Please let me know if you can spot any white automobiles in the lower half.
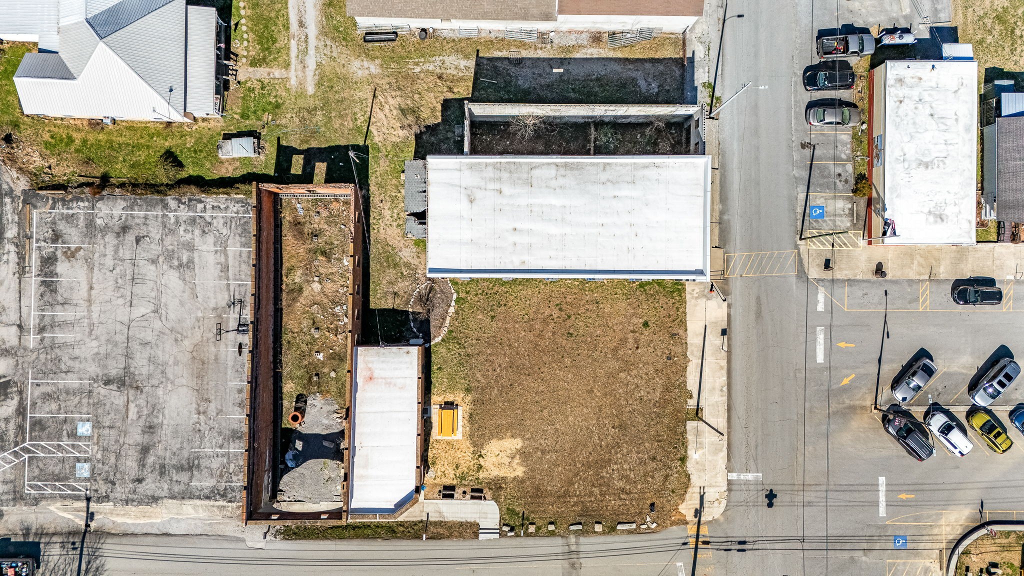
Yes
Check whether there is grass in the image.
Yes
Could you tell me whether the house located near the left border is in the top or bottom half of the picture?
top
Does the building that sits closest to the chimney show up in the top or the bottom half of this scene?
bottom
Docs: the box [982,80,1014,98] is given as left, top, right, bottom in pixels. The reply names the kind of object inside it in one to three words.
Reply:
shed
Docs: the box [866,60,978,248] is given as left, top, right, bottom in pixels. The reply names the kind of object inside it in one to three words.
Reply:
building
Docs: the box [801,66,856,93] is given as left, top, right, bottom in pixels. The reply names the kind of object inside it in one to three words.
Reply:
car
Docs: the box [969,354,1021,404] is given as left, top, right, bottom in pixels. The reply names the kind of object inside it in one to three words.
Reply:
car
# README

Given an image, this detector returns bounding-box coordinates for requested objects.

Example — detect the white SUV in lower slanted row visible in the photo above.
[920,407,972,458]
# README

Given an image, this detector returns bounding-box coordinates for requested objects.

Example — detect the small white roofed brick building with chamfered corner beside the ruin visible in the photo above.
[351,344,426,519]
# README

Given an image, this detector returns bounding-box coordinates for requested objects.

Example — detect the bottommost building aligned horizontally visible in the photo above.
[426,155,711,281]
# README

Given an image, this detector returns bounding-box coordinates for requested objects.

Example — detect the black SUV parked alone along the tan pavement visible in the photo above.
[947,284,1002,309]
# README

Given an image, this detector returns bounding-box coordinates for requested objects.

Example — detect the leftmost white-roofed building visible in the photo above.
[0,0,235,132]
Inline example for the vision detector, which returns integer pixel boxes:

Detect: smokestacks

[286,409,306,426]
